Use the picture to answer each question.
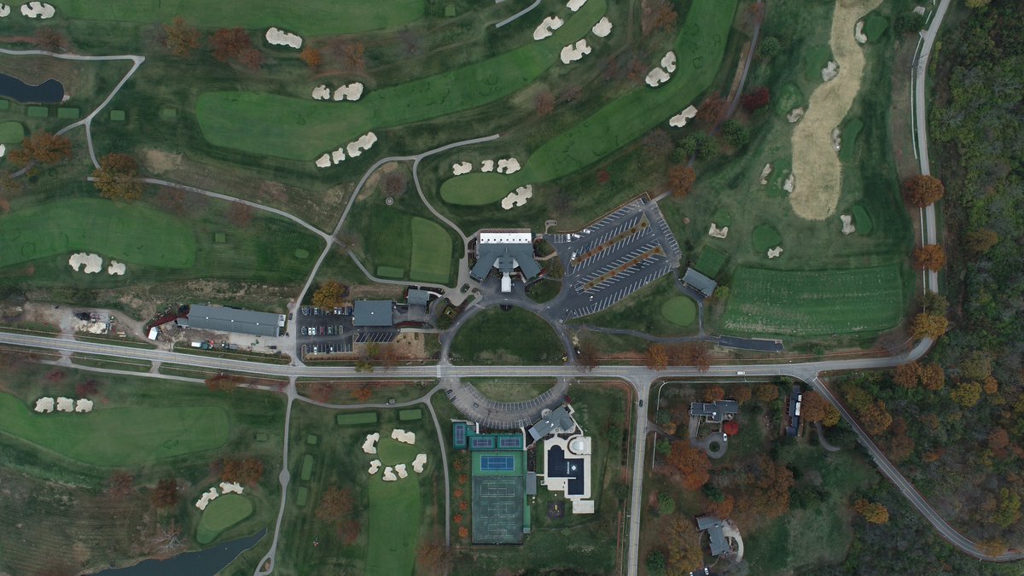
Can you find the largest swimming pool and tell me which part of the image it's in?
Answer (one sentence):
The largest swimming pool is located in the bottom region of the scene.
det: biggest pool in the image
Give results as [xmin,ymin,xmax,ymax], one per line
[544,434,594,514]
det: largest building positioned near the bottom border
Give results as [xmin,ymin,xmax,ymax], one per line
[695,514,730,556]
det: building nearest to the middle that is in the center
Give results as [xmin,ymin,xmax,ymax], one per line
[467,233,545,292]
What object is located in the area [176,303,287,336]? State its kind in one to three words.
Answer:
shed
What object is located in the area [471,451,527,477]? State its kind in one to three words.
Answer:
tennis court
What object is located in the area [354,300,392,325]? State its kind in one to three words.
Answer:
building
